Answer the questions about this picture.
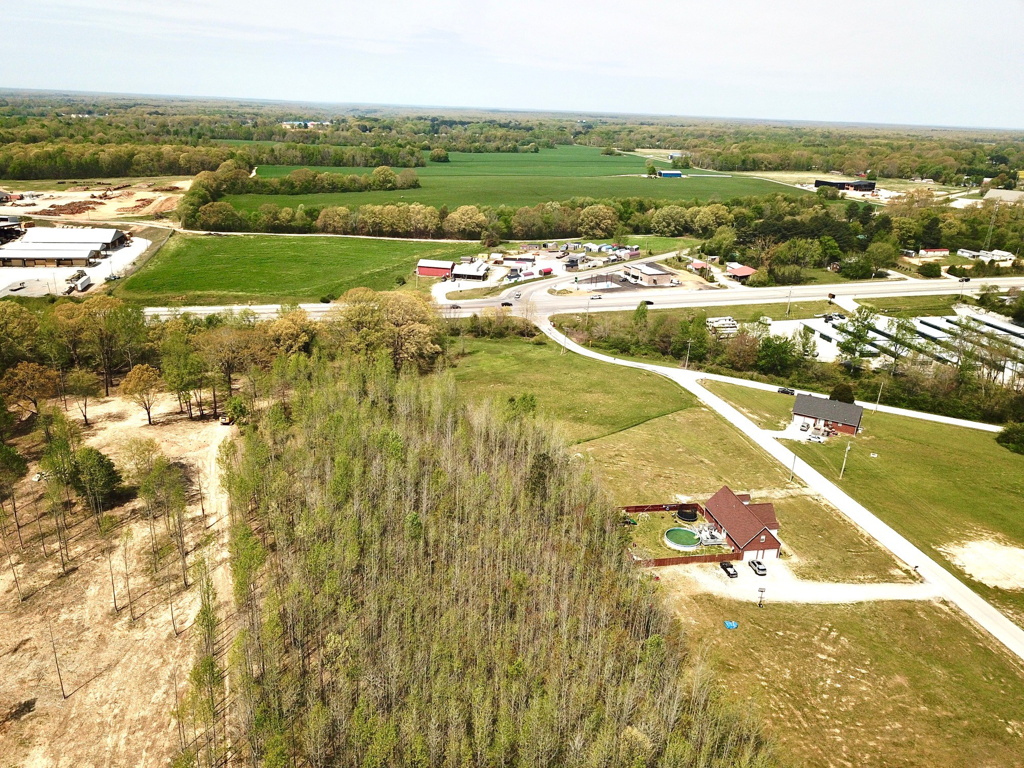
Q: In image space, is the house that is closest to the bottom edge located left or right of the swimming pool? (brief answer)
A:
right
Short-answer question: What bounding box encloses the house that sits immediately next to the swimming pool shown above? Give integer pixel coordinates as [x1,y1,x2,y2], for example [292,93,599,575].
[700,481,783,561]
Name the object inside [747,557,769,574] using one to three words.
car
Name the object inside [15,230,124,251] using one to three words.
shed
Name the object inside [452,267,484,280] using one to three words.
building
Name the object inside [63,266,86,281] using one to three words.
vehicle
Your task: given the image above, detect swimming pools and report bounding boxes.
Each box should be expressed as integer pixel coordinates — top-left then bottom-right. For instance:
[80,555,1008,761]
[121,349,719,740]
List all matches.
[665,527,701,551]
